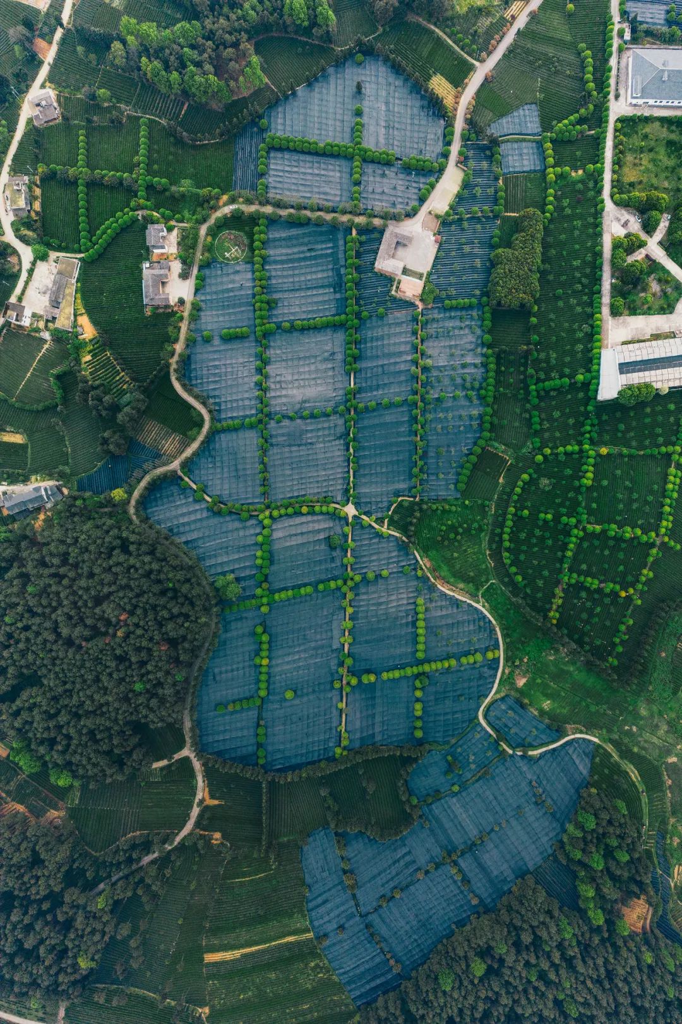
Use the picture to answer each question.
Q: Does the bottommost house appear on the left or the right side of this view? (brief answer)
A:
left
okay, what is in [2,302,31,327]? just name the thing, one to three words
house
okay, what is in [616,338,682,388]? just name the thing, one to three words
shed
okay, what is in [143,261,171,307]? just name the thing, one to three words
house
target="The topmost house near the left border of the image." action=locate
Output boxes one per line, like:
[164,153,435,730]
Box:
[29,92,59,127]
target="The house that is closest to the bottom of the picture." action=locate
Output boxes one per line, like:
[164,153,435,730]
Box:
[0,485,65,518]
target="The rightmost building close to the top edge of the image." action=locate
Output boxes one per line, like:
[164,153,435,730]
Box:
[627,48,682,106]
